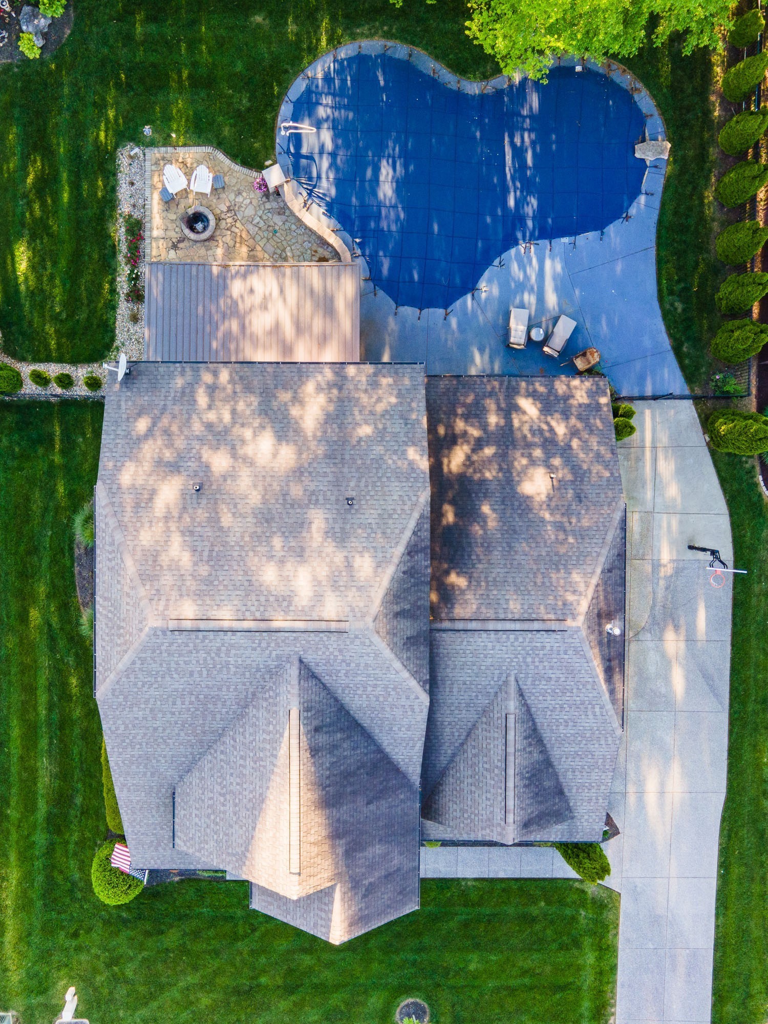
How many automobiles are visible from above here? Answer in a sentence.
No automobiles are visible.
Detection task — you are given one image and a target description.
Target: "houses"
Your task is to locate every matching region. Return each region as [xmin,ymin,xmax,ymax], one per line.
[93,361,629,944]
